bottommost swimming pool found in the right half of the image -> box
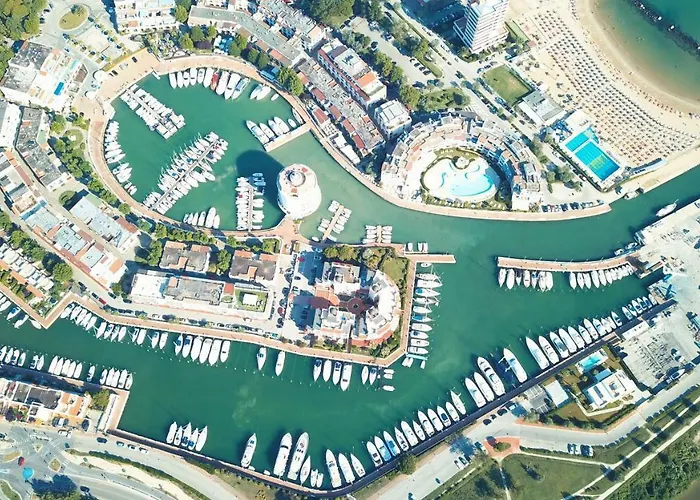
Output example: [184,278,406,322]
[578,350,601,369]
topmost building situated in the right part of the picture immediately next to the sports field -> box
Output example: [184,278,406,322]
[453,0,509,55]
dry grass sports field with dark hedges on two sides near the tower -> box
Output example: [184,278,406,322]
[483,65,530,105]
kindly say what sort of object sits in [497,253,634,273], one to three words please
pier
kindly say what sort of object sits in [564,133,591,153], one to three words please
swimming pool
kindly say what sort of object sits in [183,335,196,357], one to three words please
boat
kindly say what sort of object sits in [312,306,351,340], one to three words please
building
